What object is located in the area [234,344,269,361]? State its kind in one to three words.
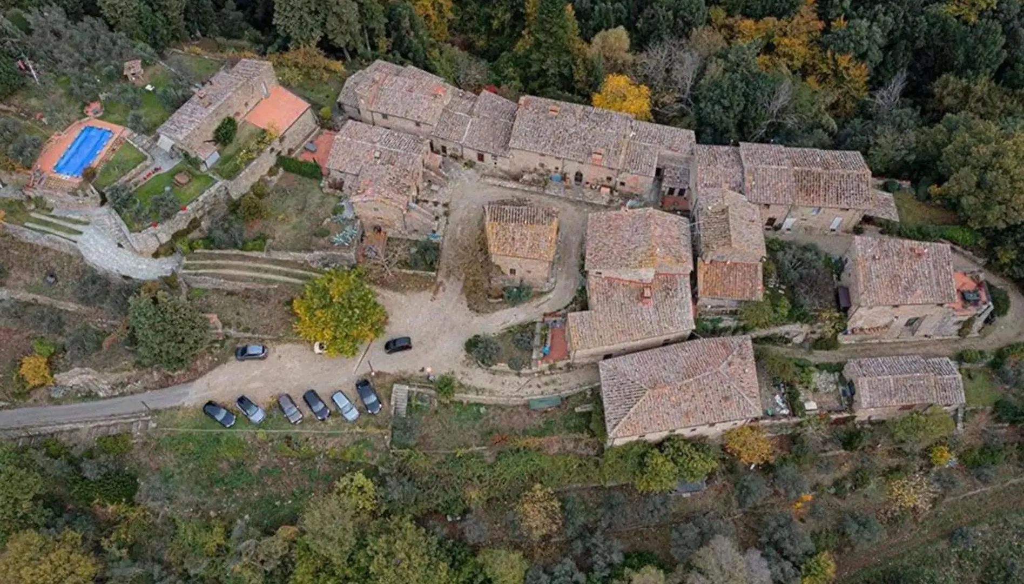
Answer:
car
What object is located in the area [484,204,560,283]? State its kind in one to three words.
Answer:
house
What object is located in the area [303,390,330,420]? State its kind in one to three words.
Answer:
car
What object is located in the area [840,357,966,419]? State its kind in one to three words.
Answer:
barn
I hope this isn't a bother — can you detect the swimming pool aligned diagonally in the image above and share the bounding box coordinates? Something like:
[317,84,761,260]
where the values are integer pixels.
[50,125,117,180]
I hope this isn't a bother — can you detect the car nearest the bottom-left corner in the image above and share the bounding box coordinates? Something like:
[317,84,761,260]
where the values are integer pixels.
[202,400,236,427]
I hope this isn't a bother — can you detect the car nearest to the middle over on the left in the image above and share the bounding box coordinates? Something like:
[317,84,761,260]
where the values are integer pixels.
[385,337,412,354]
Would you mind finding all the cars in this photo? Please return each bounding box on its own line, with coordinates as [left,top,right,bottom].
[331,391,359,421]
[234,344,269,361]
[385,337,412,354]
[202,400,236,427]
[276,393,303,423]
[236,395,265,423]
[303,390,330,420]
[357,379,382,414]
